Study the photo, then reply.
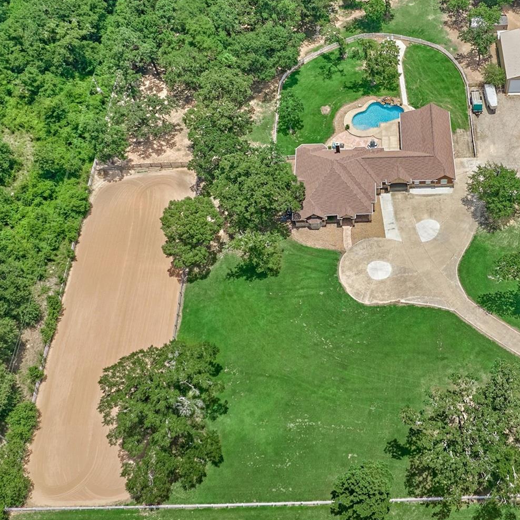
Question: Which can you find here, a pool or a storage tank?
pool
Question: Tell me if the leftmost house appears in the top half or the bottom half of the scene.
top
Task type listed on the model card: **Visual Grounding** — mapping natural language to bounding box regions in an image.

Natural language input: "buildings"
[486,7,511,27]
[500,28,520,97]
[289,104,456,231]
